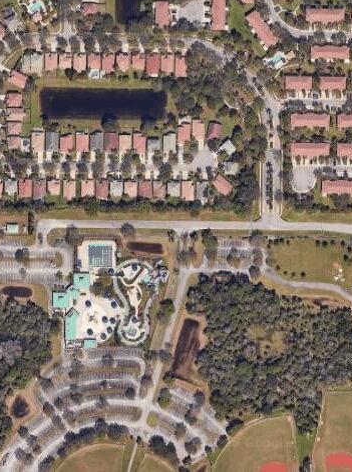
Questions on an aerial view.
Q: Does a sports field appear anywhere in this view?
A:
Yes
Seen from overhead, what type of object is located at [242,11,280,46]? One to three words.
house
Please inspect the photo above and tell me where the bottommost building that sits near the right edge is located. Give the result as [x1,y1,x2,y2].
[322,179,352,196]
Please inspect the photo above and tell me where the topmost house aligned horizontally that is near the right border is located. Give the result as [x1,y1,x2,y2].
[305,5,344,21]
